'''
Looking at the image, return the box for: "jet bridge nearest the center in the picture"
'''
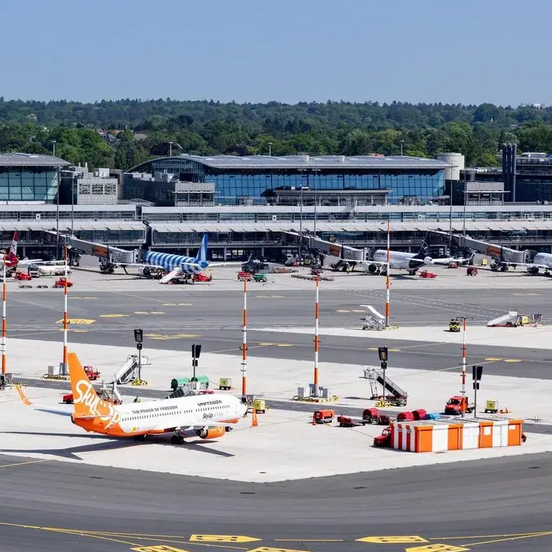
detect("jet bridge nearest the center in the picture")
[278,229,379,267]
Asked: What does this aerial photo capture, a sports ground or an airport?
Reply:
airport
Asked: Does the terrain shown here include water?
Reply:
No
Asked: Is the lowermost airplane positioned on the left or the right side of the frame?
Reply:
left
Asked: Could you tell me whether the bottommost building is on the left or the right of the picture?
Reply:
right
